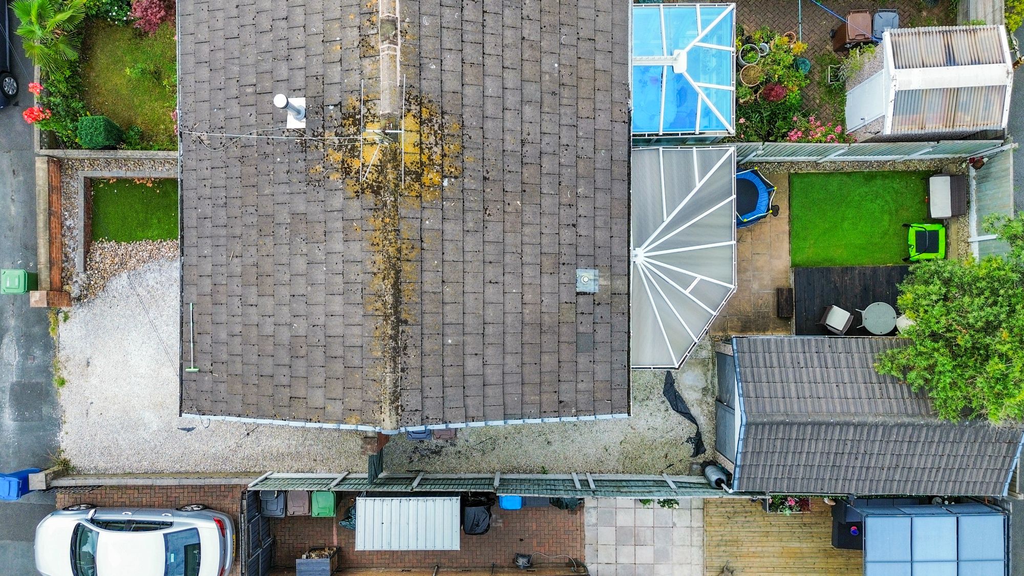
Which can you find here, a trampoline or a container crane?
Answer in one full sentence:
This aerial view contains a trampoline.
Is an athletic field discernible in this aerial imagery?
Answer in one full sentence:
No, the frame has no athletic field in it.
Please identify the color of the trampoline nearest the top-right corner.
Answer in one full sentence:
The color of the trampoline nearest the top-right corner is green.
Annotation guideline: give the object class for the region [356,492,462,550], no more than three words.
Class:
shed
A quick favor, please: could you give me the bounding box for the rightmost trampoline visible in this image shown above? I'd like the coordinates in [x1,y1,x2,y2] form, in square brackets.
[897,223,945,262]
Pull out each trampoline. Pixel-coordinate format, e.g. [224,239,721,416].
[897,223,945,262]
[736,162,782,223]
